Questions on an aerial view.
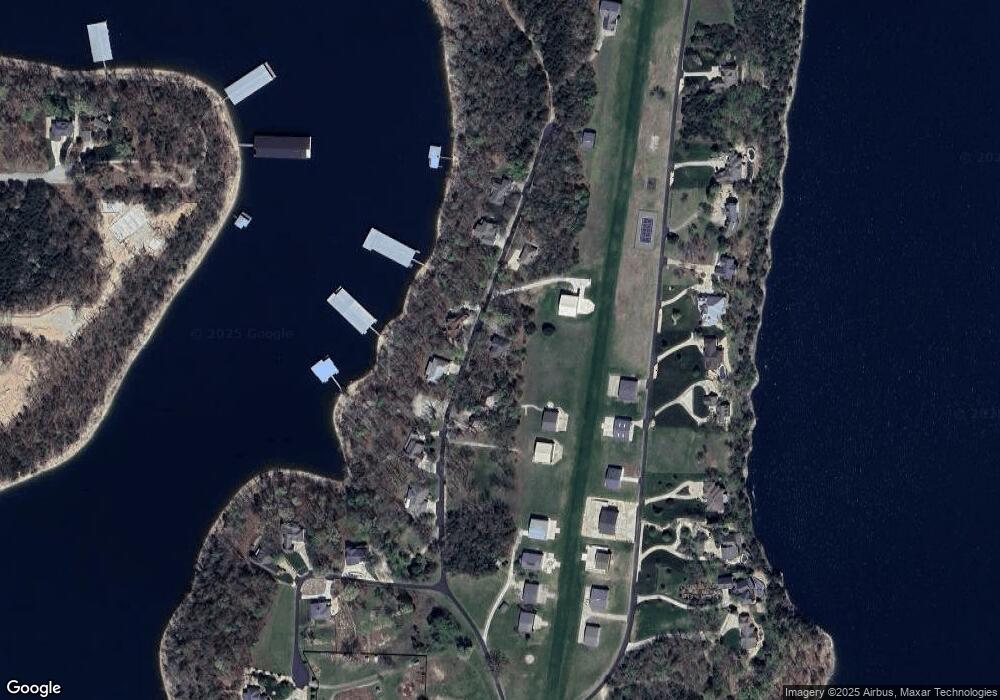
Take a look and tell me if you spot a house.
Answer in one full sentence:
Yes, a house is visible in the scene.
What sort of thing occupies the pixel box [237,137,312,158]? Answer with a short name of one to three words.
pier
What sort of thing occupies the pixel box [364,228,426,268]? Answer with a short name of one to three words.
pier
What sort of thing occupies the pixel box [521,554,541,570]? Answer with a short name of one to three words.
hangar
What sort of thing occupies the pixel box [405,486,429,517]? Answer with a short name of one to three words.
house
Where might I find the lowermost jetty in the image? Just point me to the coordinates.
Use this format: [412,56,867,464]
[312,354,344,392]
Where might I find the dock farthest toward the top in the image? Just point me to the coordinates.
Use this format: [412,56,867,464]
[88,21,114,73]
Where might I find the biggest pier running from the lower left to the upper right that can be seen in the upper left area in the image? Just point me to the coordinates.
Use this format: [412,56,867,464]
[221,62,277,105]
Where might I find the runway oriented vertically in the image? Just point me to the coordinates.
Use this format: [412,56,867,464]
[545,0,657,700]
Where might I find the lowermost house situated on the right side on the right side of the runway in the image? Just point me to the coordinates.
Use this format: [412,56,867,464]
[738,615,756,651]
